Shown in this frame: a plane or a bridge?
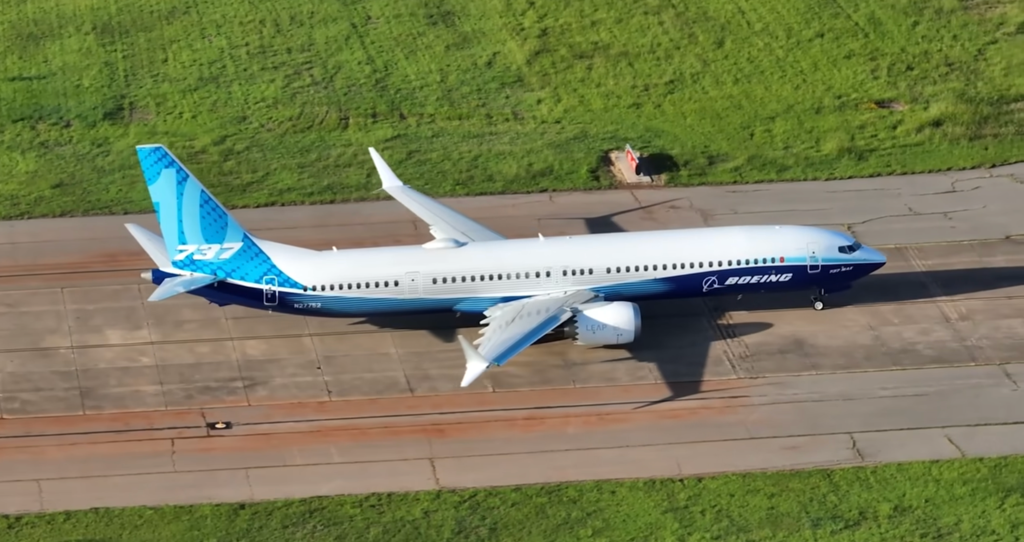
plane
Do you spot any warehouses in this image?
No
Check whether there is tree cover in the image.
No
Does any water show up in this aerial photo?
No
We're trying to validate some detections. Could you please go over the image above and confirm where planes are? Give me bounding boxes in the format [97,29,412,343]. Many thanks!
[123,146,886,388]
